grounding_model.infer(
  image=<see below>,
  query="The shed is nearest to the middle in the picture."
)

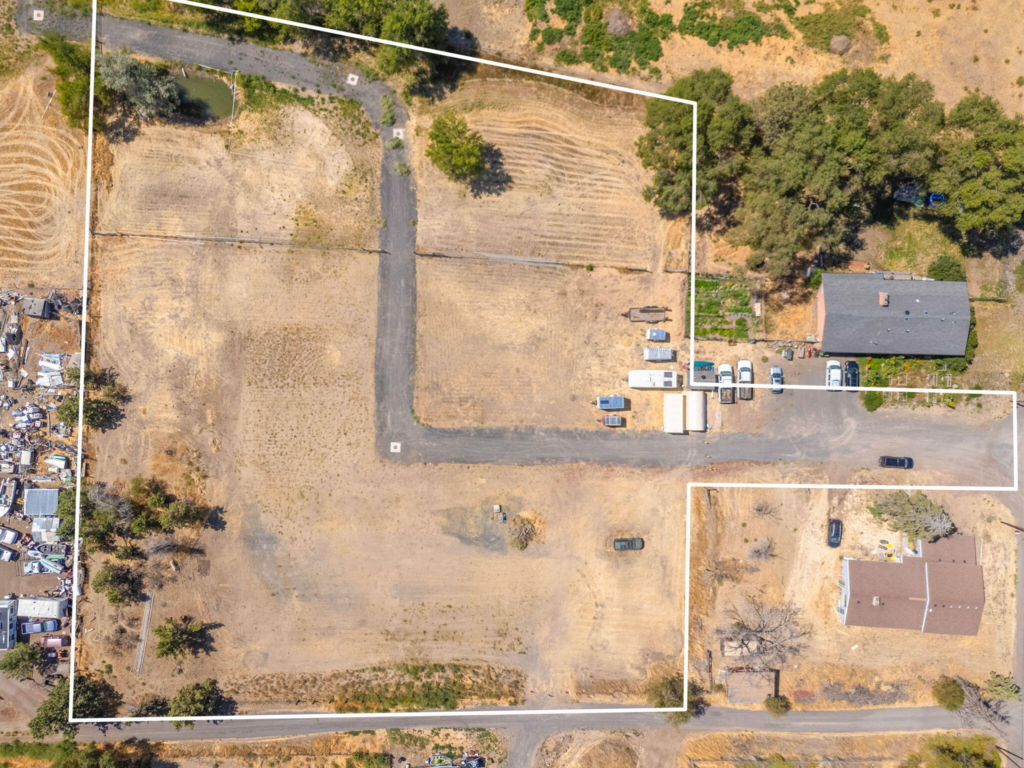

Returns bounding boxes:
[684,370,716,389]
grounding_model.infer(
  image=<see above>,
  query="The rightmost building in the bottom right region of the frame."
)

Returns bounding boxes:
[831,534,985,636]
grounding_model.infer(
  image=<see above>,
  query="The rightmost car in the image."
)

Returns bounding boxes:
[877,455,913,471]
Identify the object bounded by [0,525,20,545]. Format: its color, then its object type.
white car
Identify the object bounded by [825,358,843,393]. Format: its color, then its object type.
white car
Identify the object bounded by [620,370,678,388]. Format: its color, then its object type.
white camper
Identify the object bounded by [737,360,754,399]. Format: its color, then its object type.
white vehicle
